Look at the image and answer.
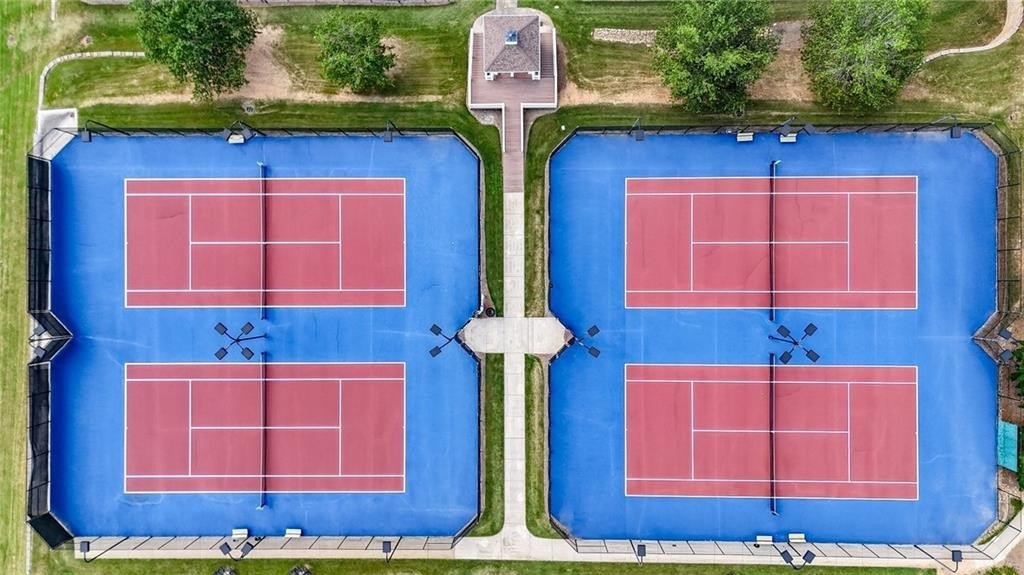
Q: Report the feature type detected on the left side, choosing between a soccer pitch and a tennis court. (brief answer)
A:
tennis court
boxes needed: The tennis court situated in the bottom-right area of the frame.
[550,337,999,545]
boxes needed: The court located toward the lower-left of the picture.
[50,337,480,537]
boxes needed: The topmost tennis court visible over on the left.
[51,134,479,337]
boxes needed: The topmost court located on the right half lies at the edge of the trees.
[550,131,999,337]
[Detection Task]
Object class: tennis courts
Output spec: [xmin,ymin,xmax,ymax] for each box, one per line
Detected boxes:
[550,337,999,545]
[51,134,479,337]
[50,337,480,537]
[550,131,999,337]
